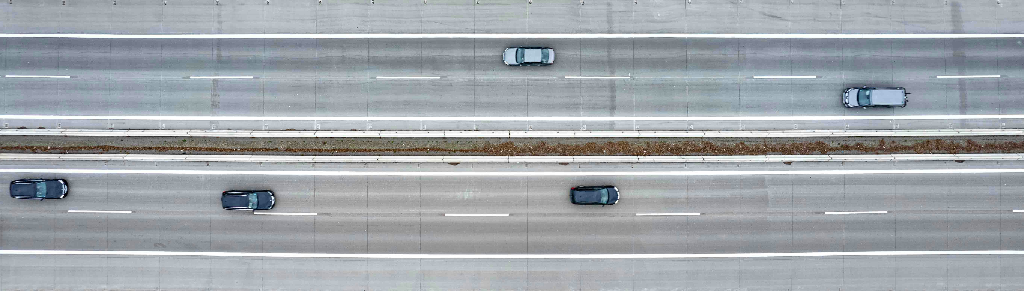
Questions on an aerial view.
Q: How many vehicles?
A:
five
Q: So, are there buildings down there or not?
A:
No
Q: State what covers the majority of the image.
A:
paved ground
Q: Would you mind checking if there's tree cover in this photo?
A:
No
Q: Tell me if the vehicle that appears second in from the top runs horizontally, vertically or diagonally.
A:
horizontally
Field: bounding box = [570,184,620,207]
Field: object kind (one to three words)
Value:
car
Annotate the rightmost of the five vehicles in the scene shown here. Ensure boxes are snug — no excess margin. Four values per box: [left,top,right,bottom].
[843,86,912,110]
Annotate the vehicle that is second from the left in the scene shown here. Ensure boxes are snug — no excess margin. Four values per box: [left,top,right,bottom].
[221,189,275,212]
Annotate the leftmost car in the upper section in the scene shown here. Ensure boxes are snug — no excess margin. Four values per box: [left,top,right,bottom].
[502,45,555,68]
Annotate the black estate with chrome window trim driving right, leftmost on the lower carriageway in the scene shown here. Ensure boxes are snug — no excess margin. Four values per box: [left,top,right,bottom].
[9,177,69,201]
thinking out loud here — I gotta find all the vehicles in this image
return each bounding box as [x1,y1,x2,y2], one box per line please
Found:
[221,189,275,212]
[843,86,912,110]
[502,45,555,68]
[9,177,69,201]
[570,184,620,207]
